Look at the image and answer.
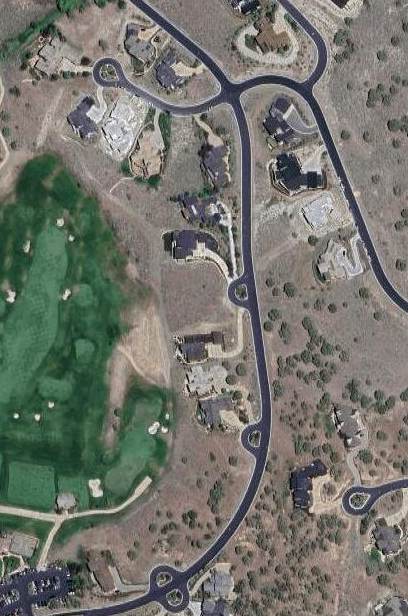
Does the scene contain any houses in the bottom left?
Yes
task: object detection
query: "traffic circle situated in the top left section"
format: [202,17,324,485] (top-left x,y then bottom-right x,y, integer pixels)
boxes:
[94,58,125,87]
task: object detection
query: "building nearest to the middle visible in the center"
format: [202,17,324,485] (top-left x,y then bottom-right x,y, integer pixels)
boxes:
[176,331,223,364]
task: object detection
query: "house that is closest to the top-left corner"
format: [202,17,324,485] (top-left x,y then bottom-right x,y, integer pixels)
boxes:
[28,30,86,79]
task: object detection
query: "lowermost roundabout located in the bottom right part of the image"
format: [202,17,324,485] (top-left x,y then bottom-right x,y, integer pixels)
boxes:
[345,484,382,515]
